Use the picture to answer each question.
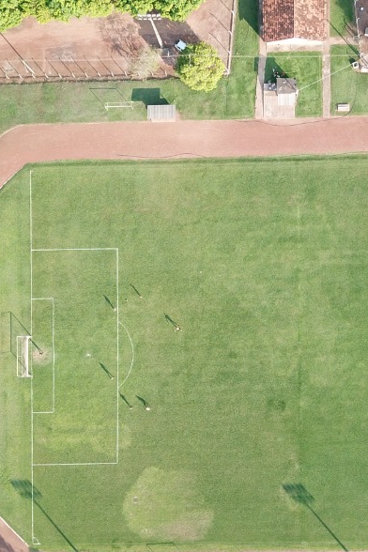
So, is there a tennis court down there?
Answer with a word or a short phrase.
No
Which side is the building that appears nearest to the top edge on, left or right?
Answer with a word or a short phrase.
right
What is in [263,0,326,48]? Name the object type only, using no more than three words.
building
